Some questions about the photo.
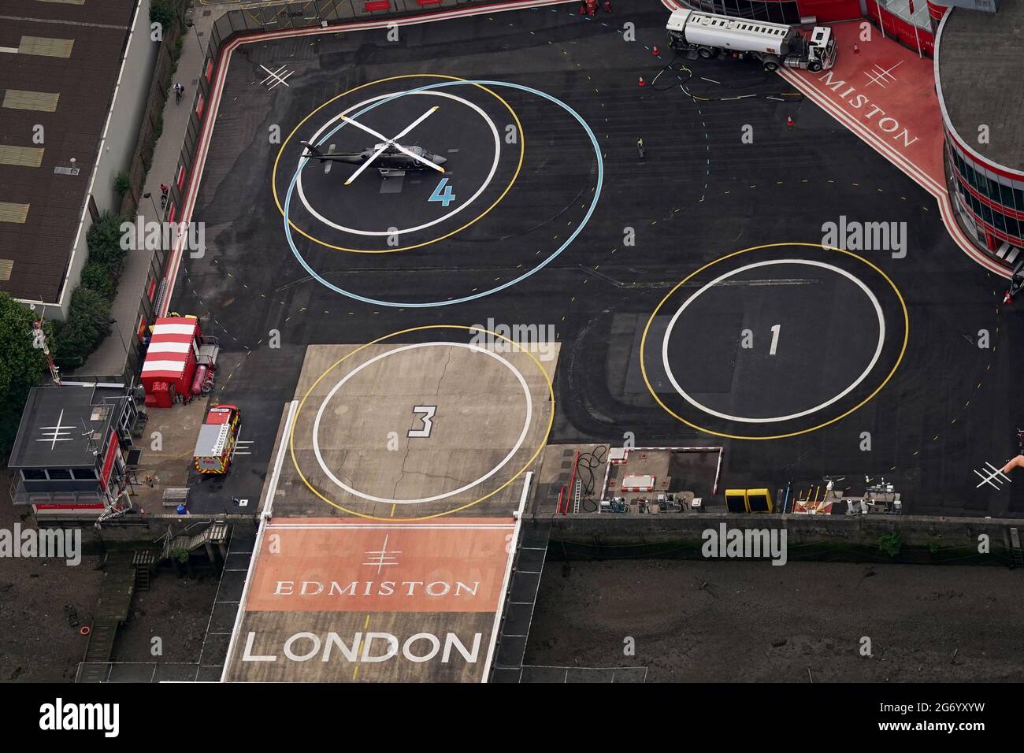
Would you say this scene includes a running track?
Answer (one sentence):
No, I can't see a single running track in this photo.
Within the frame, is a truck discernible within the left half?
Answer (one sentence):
Yes, a truck shows up within the left half.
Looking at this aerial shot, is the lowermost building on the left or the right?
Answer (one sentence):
The lowermost building appears in the left half of the scene.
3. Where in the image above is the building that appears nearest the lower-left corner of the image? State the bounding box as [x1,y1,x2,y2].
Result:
[8,386,127,517]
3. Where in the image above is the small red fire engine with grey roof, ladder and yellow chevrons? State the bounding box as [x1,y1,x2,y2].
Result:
[194,404,241,474]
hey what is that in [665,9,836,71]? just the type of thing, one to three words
truck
